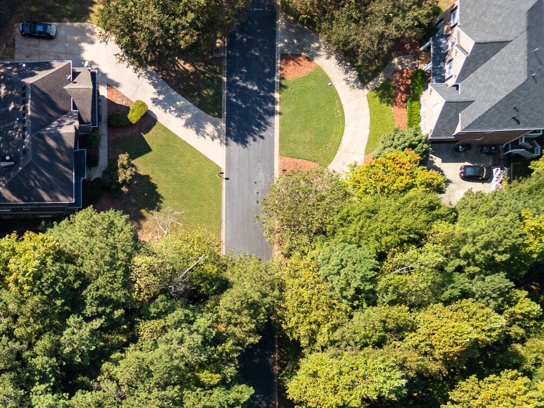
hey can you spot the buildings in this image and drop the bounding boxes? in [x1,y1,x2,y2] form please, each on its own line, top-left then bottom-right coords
[0,60,97,215]
[415,0,544,146]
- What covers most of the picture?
trees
